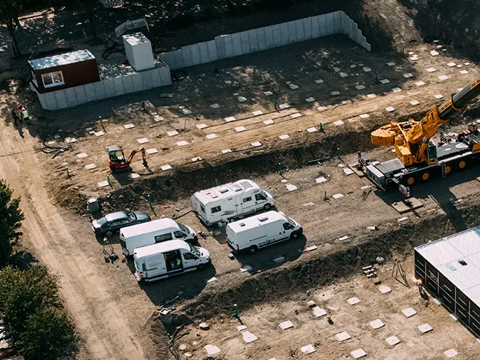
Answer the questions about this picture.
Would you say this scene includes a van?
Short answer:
Yes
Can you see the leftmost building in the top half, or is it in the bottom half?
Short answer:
top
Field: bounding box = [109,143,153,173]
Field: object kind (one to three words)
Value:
work vehicle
